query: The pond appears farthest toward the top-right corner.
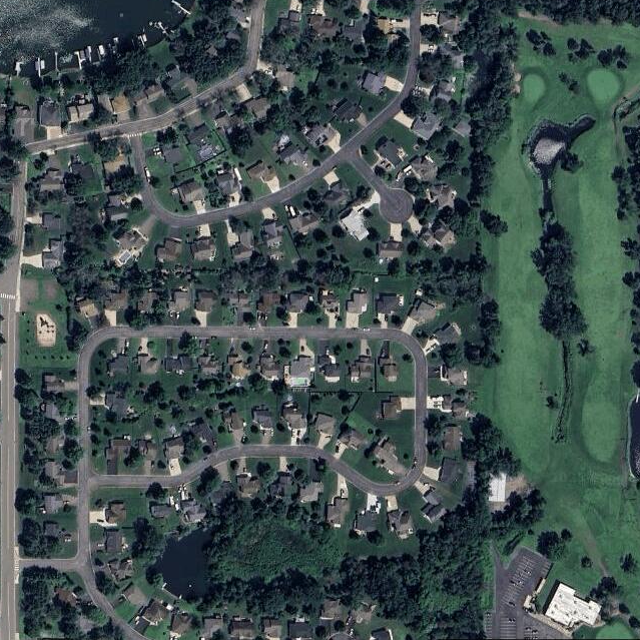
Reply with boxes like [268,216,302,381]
[531,116,595,213]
